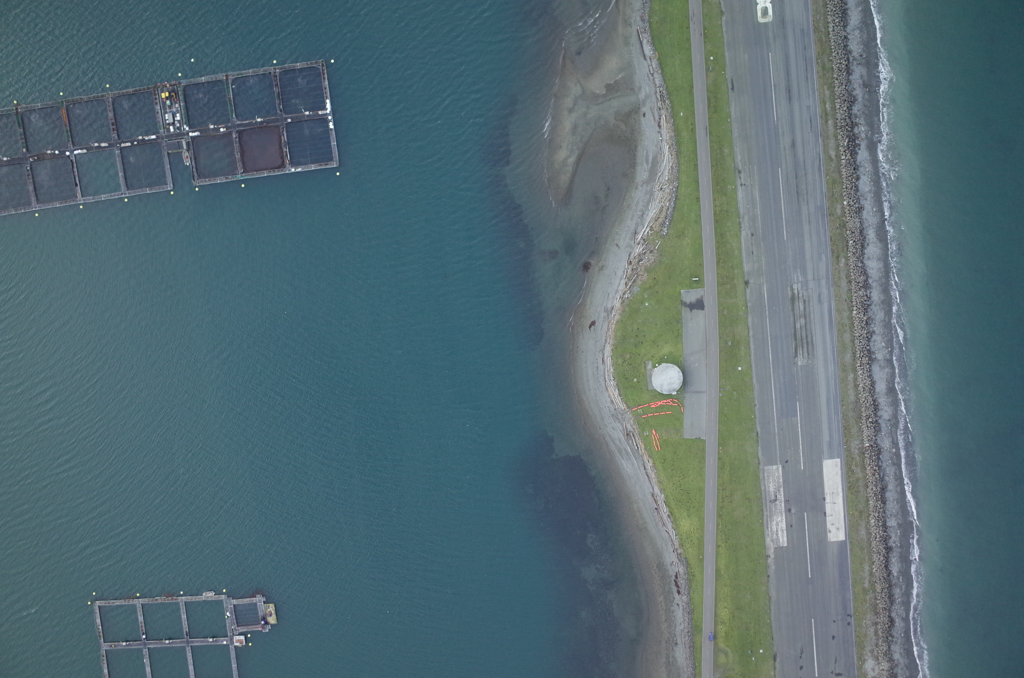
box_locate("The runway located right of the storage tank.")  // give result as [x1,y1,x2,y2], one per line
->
[721,0,857,678]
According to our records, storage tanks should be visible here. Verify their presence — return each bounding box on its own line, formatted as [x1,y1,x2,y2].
[650,361,683,394]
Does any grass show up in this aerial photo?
Yes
